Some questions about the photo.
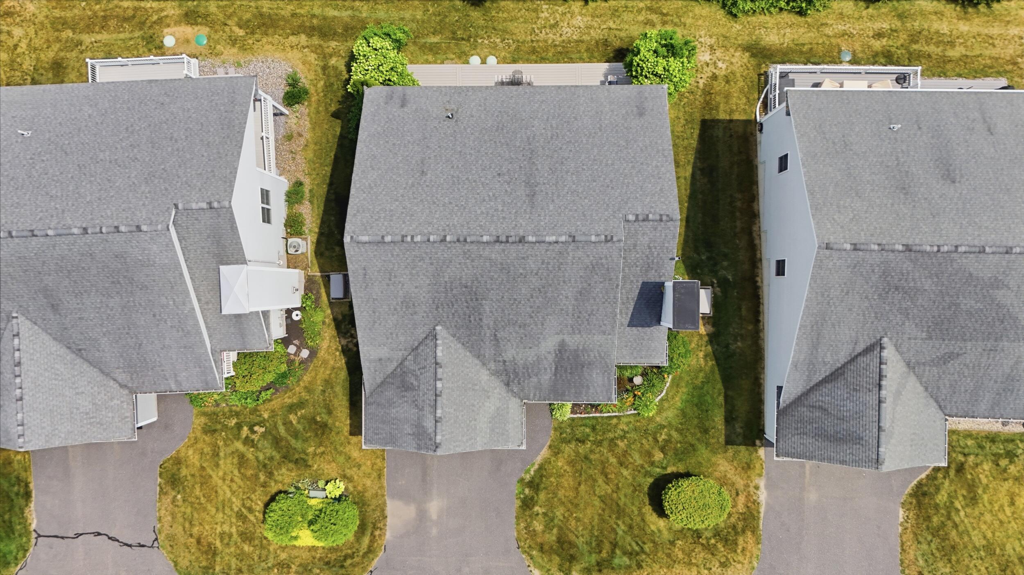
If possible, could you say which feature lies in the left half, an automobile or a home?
home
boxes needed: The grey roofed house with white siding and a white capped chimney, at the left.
[0,75,301,452]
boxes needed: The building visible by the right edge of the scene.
[758,87,1024,465]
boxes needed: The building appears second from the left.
[344,86,701,455]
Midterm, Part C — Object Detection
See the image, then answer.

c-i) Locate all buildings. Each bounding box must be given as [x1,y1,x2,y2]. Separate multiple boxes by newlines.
[758,87,1024,465]
[344,86,701,455]
[0,75,301,452]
